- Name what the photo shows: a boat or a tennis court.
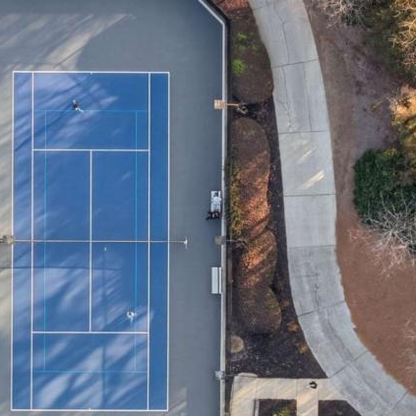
tennis court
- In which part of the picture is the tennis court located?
left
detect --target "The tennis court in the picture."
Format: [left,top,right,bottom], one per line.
[13,71,169,411]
